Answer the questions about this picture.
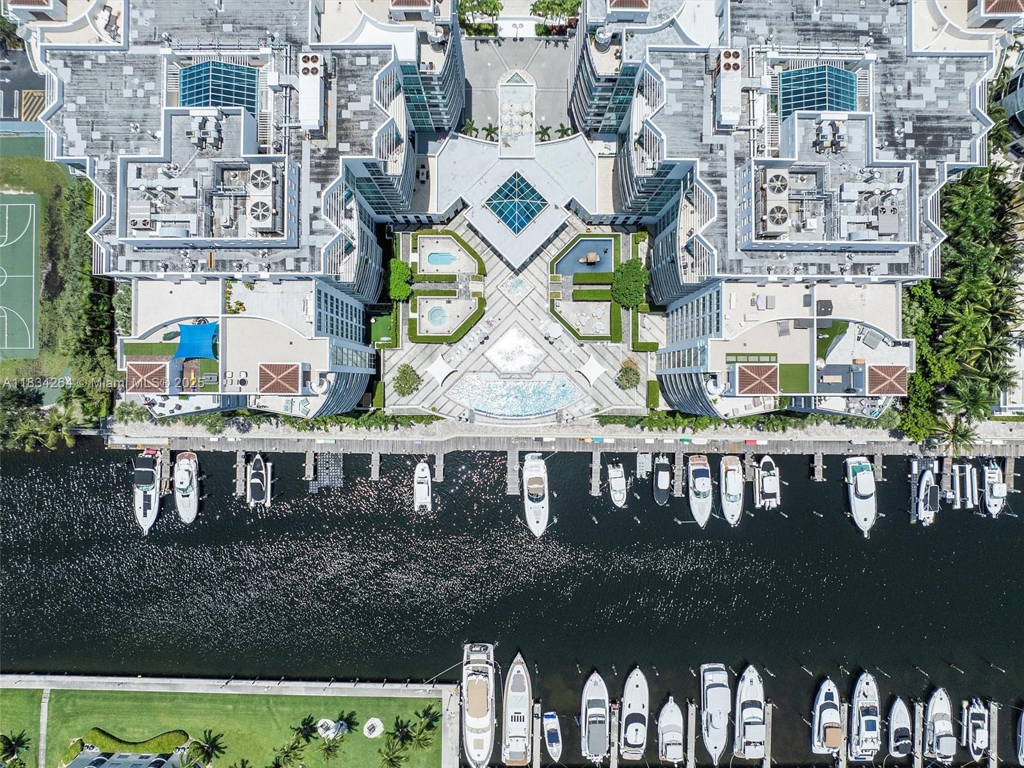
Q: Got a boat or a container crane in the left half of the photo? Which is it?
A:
boat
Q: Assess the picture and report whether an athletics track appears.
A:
No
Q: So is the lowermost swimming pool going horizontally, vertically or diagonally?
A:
horizontally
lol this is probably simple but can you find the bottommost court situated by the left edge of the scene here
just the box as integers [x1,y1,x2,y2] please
[0,194,40,358]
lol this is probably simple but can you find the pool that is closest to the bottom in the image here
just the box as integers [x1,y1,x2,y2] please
[442,371,590,419]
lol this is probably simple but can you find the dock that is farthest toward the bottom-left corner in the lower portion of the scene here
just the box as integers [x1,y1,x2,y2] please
[158,450,174,494]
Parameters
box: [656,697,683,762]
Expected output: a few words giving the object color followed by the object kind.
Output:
white boat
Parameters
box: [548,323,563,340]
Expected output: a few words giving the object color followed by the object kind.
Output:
white umbrella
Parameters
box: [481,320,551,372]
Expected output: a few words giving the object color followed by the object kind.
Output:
white swimming pool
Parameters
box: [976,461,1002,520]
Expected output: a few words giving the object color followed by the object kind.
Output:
white boat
